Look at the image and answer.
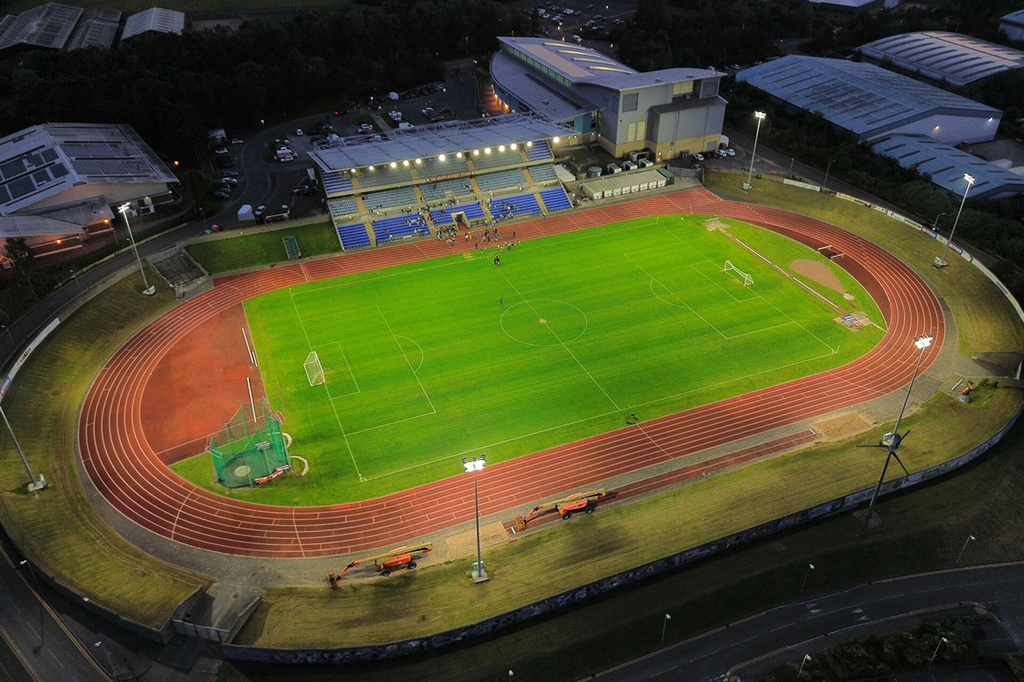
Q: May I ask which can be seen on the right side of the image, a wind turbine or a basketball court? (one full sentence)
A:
Looking on the right side of the image, you will find a wind turbine.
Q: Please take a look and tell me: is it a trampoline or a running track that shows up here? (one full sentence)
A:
The image shows a running track.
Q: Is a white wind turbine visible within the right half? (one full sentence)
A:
No, there is no white wind turbine within the right half.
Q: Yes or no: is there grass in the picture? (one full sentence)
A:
Yes, there is grass in the image.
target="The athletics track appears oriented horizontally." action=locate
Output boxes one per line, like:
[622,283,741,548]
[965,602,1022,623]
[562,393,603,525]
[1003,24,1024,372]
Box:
[79,199,945,555]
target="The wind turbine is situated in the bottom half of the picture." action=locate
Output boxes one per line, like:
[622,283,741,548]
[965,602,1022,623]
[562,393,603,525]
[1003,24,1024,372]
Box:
[861,431,909,518]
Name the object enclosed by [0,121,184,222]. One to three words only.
building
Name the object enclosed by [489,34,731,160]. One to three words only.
building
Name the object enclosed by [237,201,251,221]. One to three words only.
vehicle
